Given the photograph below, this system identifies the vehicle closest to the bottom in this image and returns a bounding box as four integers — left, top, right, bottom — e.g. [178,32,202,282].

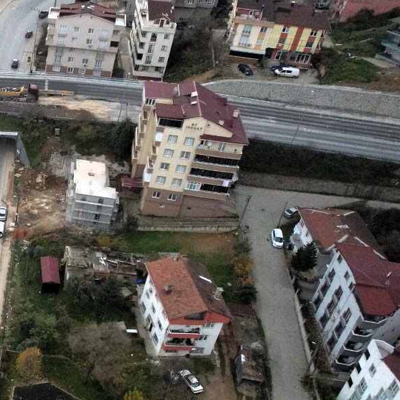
[181,370,204,396]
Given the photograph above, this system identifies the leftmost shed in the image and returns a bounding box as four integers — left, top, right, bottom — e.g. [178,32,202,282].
[32,254,61,294]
